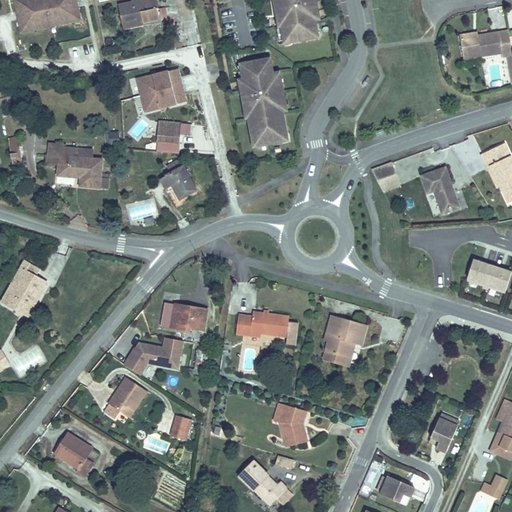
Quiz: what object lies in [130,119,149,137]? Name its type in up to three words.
swimming pool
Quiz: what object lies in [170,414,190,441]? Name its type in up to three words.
building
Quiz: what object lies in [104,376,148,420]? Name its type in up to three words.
house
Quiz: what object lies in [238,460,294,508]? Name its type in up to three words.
house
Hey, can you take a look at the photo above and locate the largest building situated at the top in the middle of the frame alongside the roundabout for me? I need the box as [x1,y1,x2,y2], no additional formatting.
[238,52,290,148]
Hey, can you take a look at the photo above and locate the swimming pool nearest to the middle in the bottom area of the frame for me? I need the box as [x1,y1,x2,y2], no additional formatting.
[243,348,256,371]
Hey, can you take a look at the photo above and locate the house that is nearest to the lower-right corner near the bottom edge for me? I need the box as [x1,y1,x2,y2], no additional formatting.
[480,474,509,500]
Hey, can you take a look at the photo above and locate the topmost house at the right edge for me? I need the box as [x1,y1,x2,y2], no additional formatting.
[460,28,512,86]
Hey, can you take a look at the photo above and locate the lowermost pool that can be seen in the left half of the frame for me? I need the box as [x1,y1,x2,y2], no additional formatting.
[147,438,170,454]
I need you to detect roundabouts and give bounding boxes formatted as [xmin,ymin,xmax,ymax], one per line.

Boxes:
[254,172,376,288]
